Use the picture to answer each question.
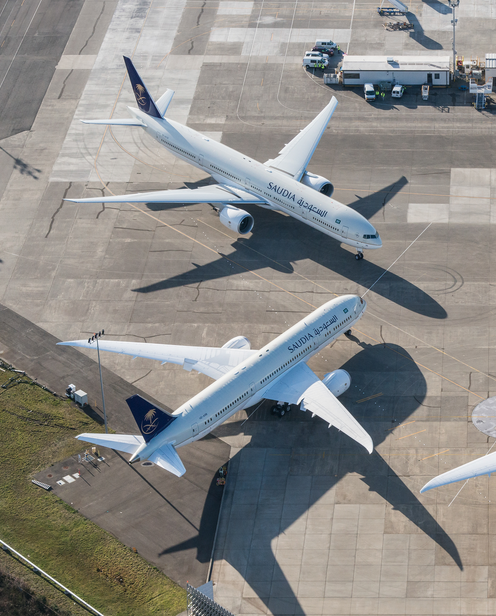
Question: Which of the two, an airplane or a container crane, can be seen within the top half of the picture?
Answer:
airplane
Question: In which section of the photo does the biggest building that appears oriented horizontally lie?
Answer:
top right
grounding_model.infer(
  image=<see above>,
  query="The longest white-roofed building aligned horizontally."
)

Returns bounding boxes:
[342,56,454,88]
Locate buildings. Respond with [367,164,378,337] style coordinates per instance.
[485,56,496,89]
[342,56,454,88]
